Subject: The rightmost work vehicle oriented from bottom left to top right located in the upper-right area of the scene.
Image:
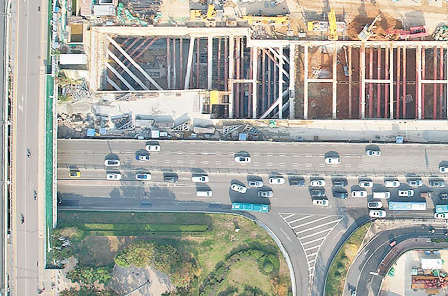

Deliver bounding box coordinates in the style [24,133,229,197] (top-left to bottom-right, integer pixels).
[354,14,381,43]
